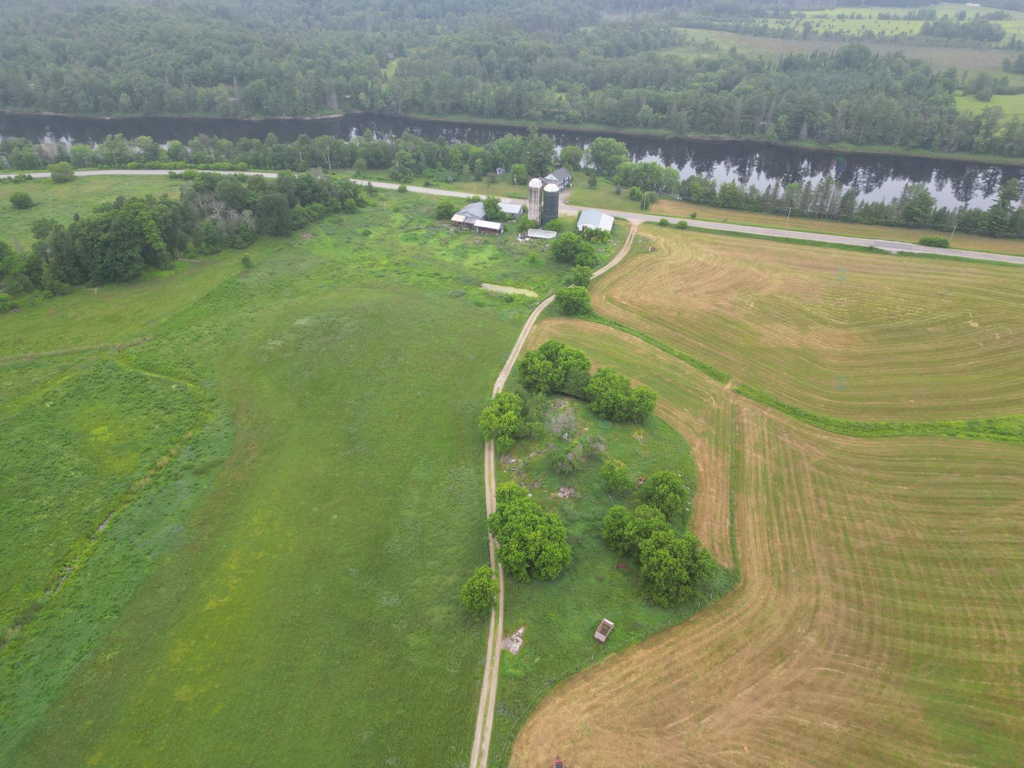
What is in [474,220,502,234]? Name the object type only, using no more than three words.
shed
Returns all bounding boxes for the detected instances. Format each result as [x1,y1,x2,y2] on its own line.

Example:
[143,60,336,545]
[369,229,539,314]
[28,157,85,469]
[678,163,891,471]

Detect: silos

[529,178,543,226]
[543,187,559,226]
